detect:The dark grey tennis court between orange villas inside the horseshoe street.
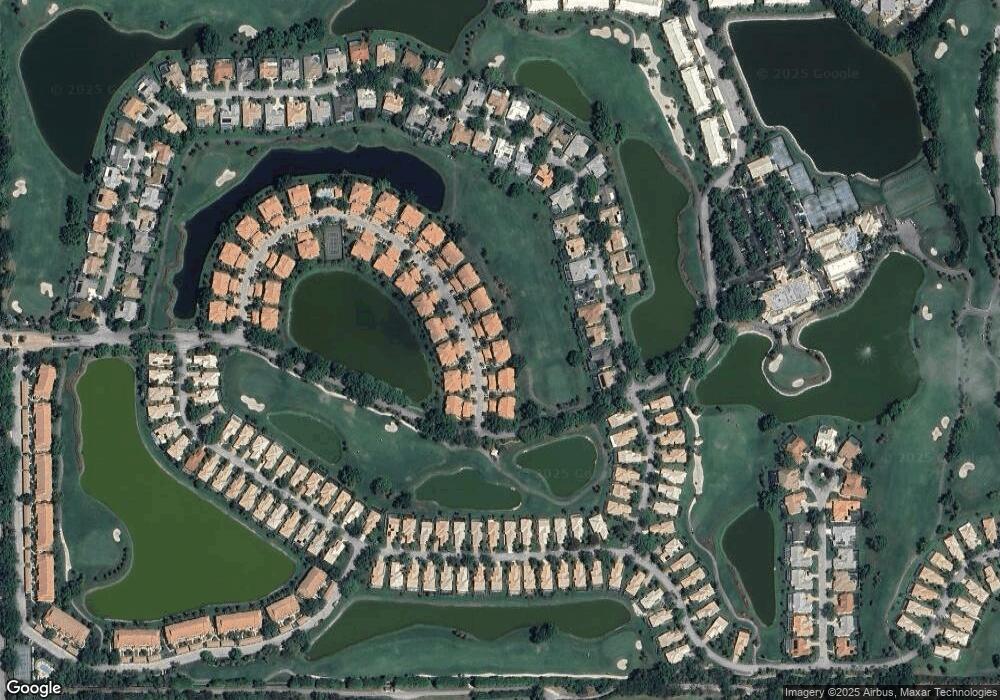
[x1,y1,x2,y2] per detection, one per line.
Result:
[324,226,343,260]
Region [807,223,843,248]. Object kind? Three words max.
building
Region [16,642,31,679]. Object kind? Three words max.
tennis court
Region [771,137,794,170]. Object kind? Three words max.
tennis court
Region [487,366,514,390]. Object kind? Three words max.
house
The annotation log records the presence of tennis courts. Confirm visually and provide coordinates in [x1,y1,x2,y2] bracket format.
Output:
[817,185,838,206]
[788,160,814,194]
[833,179,858,215]
[324,226,343,260]
[823,202,844,221]
[804,190,822,212]
[16,642,31,679]
[771,137,794,170]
